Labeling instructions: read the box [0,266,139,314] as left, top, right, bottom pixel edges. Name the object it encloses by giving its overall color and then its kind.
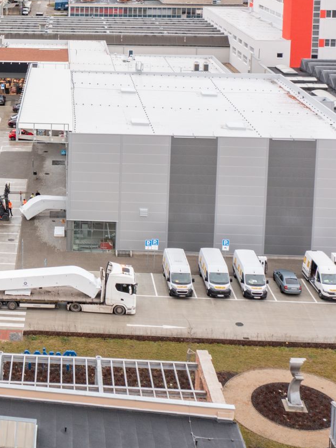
white truck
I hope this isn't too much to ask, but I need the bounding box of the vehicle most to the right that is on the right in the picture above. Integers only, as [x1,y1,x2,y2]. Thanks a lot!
[311,258,336,297]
